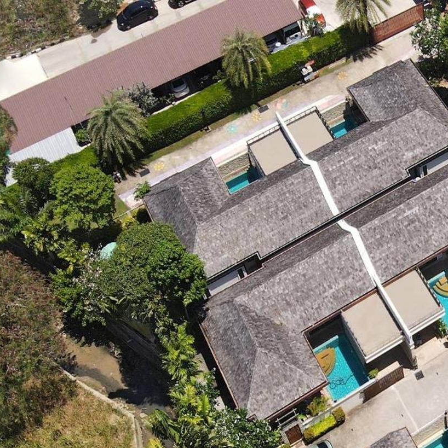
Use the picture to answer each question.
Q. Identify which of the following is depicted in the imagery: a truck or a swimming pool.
swimming pool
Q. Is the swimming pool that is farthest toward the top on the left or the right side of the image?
right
